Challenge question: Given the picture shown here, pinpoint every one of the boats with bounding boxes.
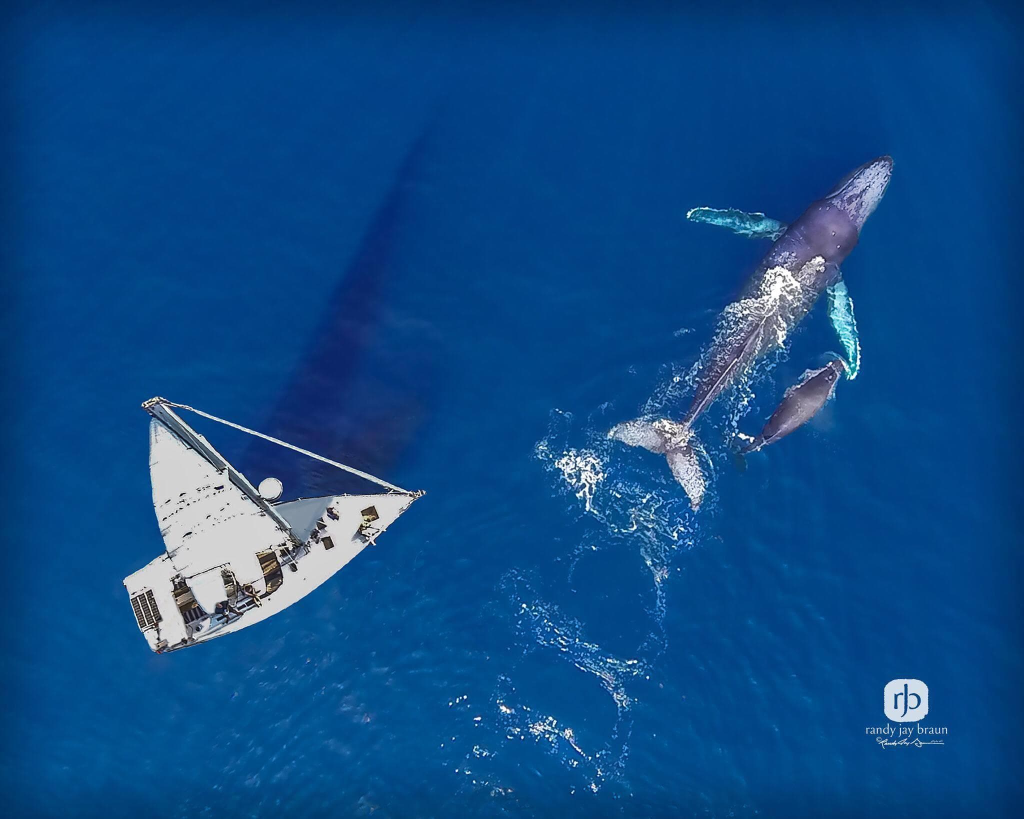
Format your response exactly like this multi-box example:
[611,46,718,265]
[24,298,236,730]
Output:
[126,395,432,657]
